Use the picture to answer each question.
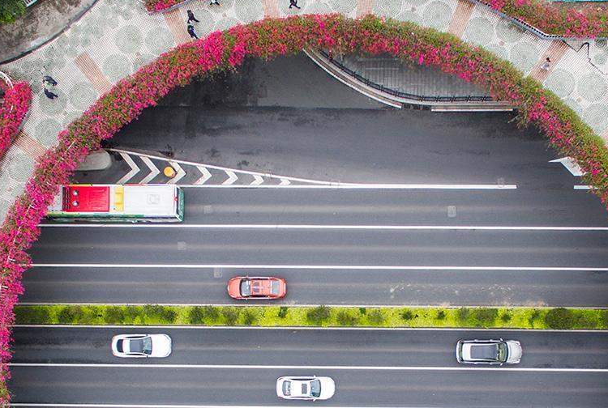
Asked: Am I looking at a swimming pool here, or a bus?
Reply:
bus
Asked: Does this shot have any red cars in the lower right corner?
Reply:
No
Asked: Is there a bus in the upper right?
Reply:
No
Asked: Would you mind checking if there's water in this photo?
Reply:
No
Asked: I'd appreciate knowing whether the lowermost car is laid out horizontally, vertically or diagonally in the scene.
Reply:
horizontally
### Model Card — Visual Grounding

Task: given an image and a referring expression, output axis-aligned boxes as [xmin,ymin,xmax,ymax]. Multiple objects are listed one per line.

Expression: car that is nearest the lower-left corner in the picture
[112,332,172,359]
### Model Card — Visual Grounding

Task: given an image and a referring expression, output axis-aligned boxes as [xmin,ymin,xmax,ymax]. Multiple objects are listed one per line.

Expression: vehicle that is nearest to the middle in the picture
[229,274,286,301]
